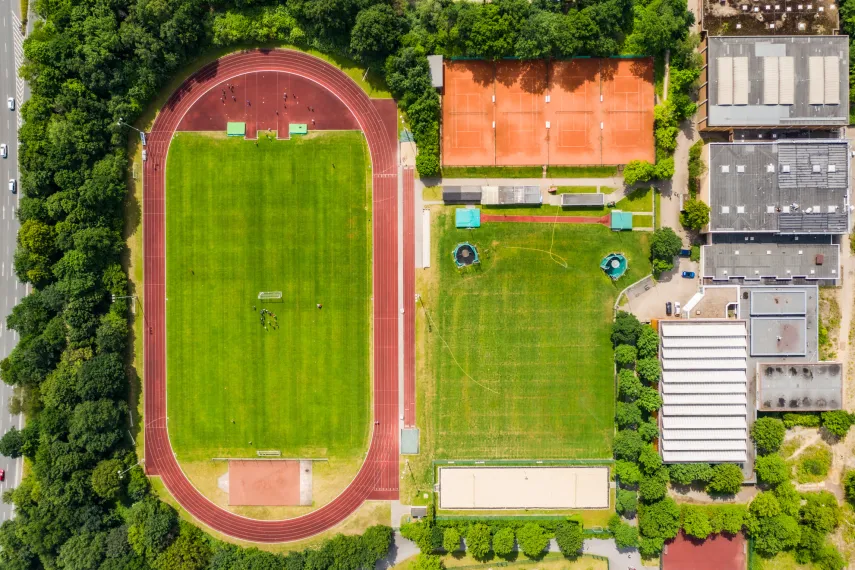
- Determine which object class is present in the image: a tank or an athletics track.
athletics track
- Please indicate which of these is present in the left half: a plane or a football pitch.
football pitch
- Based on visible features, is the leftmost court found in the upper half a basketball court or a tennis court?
tennis court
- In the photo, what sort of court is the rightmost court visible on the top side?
tennis court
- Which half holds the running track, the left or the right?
left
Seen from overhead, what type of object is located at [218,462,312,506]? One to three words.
sports court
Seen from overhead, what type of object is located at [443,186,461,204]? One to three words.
shed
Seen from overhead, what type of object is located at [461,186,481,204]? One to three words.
shed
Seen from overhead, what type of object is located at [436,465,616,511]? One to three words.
sports court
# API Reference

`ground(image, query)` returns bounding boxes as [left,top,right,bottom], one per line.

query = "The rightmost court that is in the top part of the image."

[601,59,655,165]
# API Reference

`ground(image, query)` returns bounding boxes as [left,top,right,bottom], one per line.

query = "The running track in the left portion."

[144,48,399,542]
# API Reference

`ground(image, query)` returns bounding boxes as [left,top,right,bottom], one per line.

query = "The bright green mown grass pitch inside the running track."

[166,131,372,520]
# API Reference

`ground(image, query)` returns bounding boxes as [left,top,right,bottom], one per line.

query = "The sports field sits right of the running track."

[430,224,616,460]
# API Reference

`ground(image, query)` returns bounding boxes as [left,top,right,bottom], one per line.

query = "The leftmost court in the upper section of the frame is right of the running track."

[443,59,495,165]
